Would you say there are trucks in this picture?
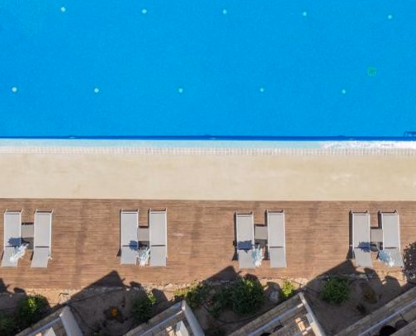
No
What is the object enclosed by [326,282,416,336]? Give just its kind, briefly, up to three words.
building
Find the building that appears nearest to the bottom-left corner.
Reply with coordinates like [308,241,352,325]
[6,299,81,336]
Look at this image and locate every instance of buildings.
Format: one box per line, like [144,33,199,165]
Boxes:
[218,290,321,336]
[106,293,199,336]
[6,299,81,336]
[326,282,416,336]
